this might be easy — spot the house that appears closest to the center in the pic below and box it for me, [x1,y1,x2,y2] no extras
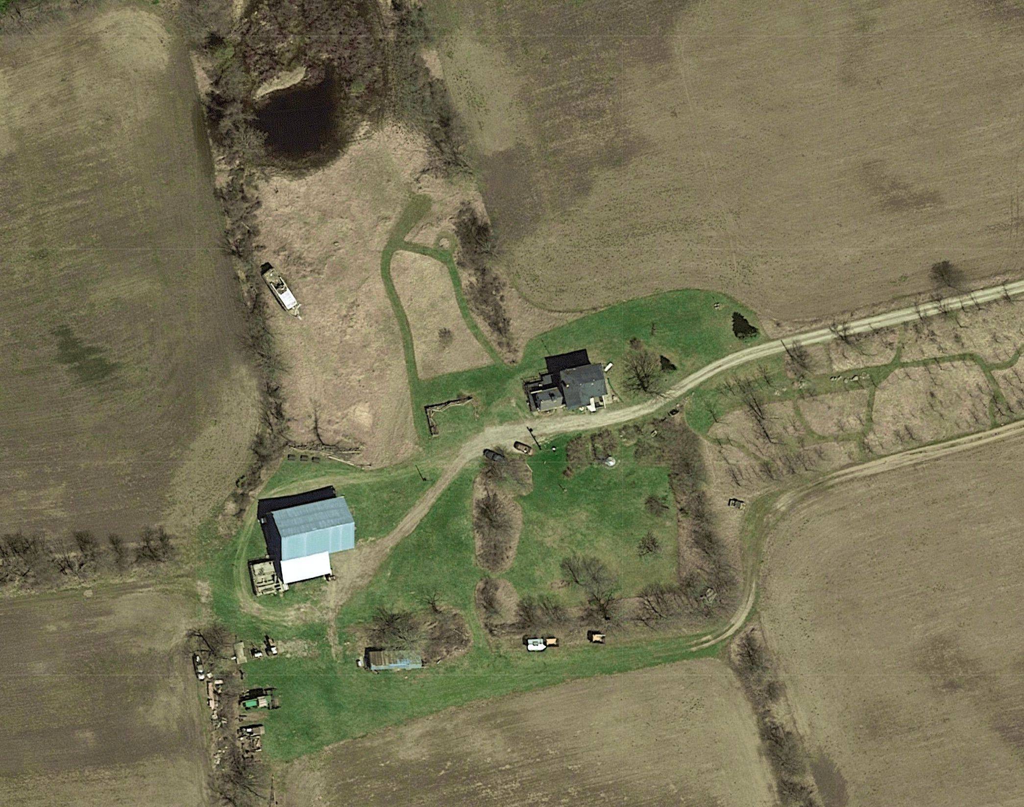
[524,363,607,412]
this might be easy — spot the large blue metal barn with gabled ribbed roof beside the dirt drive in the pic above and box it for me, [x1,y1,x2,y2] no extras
[267,497,352,584]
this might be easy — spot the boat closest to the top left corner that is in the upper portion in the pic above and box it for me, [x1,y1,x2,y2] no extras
[262,268,301,319]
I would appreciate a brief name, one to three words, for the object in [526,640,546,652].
vehicle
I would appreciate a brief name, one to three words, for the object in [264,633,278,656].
work vehicle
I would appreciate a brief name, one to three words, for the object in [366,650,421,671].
shed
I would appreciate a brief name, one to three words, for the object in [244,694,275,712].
work vehicle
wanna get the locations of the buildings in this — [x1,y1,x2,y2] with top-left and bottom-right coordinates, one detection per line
[366,650,421,671]
[524,363,607,412]
[267,497,352,584]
